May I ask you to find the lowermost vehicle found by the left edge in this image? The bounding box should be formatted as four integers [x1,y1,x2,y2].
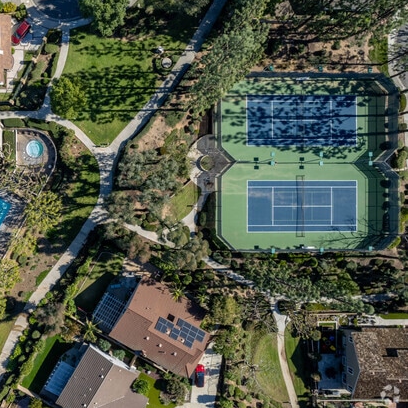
[13,21,32,46]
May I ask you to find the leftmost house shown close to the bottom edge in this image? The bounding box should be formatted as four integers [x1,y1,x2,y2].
[49,340,150,408]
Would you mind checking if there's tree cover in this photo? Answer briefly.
Yes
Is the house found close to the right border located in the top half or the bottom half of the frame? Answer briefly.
bottom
